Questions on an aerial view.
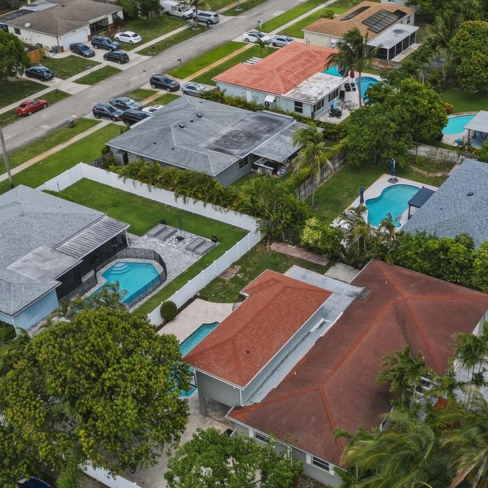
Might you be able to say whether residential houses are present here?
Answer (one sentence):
Yes, a residential house is visible in the scene.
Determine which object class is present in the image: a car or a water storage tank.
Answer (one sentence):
I can see a car in this picture.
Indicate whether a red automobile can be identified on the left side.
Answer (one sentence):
Yes, a red automobile shows up on the left side.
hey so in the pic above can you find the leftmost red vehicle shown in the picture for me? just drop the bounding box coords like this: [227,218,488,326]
[11,100,52,120]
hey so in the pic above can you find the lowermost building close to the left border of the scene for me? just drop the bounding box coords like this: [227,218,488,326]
[0,184,134,335]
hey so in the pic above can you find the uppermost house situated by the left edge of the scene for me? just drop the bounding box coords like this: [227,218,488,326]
[0,0,131,53]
